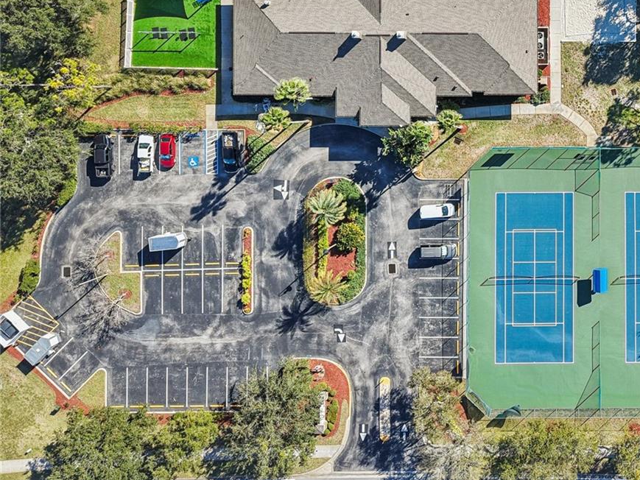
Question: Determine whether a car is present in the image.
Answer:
Yes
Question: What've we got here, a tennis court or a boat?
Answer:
tennis court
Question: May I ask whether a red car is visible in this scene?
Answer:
Yes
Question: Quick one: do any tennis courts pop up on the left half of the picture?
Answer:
No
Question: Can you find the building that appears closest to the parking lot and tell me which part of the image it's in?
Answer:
top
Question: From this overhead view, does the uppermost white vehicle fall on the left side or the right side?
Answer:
left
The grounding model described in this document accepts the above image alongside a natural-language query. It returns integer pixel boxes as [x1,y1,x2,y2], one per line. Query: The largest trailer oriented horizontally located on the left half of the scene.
[146,230,197,254]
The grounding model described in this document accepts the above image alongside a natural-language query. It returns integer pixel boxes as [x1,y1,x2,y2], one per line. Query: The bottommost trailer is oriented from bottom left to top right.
[21,329,70,369]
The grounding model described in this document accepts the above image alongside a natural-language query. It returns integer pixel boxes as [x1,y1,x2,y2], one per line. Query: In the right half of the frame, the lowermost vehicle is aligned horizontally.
[419,243,459,260]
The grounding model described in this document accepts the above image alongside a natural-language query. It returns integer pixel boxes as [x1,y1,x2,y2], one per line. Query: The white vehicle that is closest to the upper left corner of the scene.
[136,132,158,174]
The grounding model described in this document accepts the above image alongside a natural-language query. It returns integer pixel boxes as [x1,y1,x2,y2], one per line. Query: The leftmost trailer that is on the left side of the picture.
[0,311,36,348]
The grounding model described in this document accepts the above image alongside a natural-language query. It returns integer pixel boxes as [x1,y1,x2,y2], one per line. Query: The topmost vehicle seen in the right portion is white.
[420,203,457,220]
